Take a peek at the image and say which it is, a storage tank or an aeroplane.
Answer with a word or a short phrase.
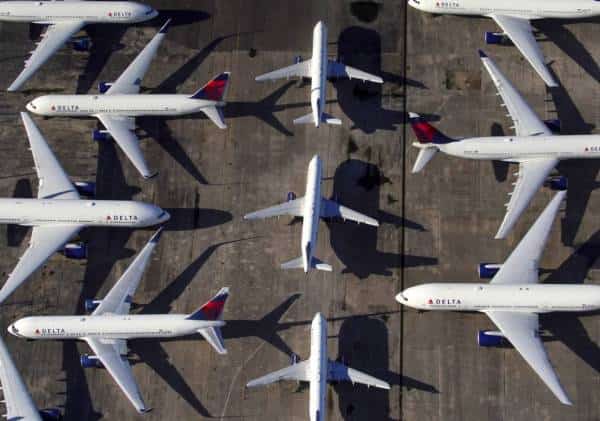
aeroplane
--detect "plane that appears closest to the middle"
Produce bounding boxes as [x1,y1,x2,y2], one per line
[244,155,378,272]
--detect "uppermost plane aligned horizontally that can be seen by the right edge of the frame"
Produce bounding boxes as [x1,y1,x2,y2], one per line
[408,0,600,85]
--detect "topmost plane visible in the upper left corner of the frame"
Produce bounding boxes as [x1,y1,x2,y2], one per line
[0,0,162,92]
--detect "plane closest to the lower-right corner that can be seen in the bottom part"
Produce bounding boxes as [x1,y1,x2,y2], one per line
[398,193,600,404]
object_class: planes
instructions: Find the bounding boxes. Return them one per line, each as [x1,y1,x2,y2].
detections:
[247,313,388,421]
[255,21,382,127]
[244,155,378,272]
[408,0,600,85]
[0,0,162,92]
[0,348,63,421]
[398,193,600,404]
[9,228,228,411]
[0,110,173,309]
[27,19,230,177]
[410,47,600,237]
